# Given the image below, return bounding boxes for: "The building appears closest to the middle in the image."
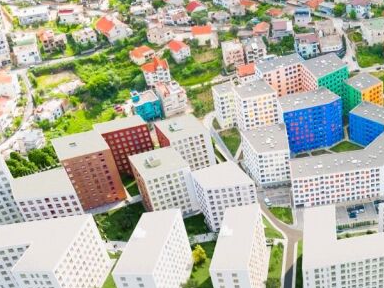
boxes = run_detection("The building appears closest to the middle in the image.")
[154,114,212,175]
